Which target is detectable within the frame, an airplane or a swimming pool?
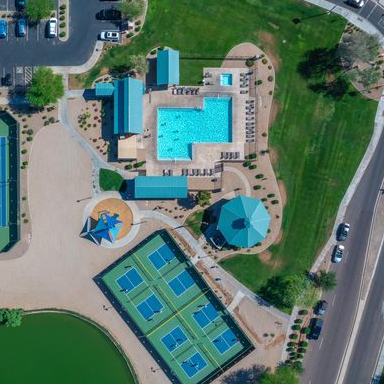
swimming pool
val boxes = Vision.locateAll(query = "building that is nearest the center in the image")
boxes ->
[135,176,189,198]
